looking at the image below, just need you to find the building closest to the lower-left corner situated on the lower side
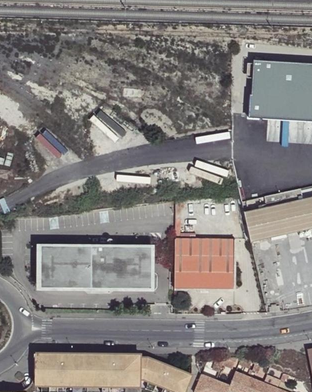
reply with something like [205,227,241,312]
[35,352,142,388]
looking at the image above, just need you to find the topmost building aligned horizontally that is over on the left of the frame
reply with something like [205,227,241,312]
[36,244,155,290]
